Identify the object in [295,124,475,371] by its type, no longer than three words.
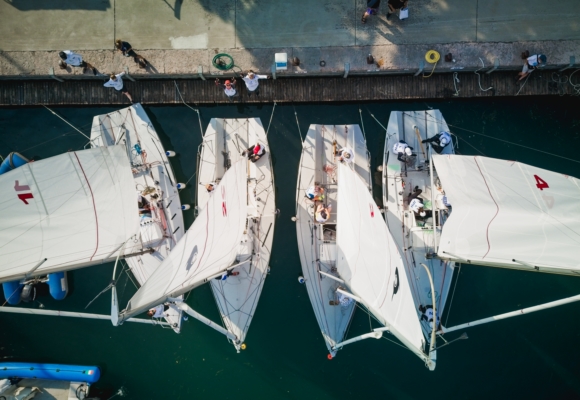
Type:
boat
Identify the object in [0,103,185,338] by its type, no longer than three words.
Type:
boat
